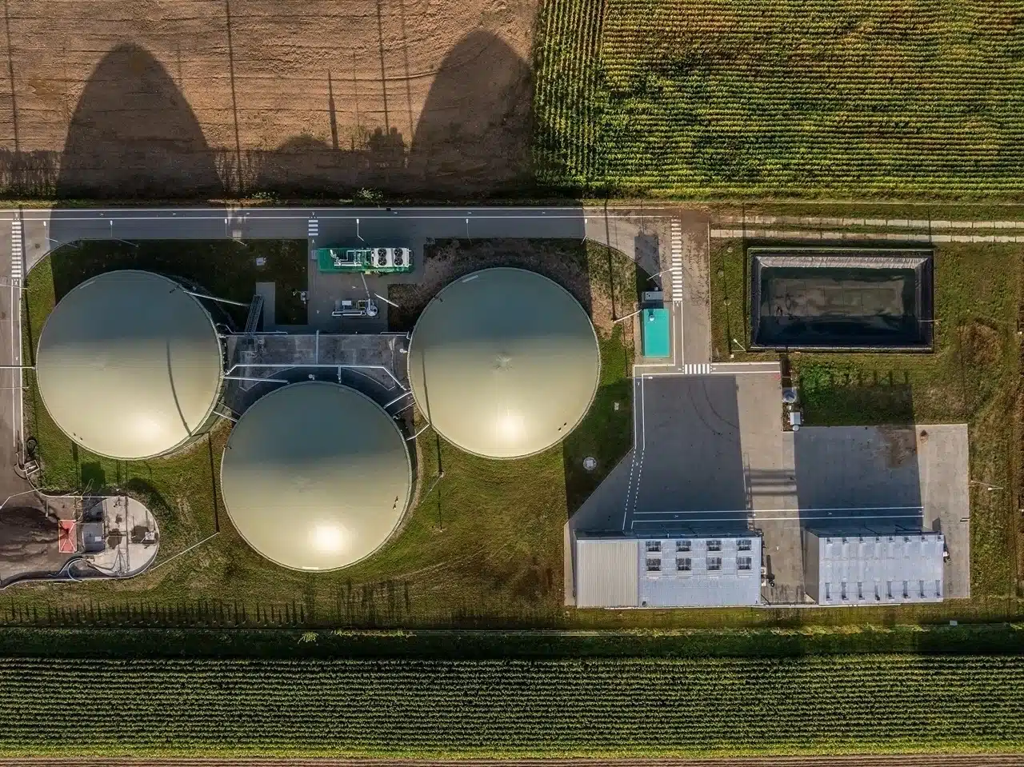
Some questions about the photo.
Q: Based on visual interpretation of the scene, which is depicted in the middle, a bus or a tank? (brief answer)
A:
tank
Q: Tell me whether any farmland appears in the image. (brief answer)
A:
Yes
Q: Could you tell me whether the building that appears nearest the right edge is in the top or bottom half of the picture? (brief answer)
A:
bottom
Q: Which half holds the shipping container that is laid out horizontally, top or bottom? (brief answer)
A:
top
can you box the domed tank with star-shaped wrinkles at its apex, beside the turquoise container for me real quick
[408,267,600,459]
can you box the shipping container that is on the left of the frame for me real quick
[312,248,416,275]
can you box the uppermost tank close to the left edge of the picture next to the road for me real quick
[35,271,233,458]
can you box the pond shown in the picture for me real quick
[752,251,935,349]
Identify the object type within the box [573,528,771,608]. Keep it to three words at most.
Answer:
building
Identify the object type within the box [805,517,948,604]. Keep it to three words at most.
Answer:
building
